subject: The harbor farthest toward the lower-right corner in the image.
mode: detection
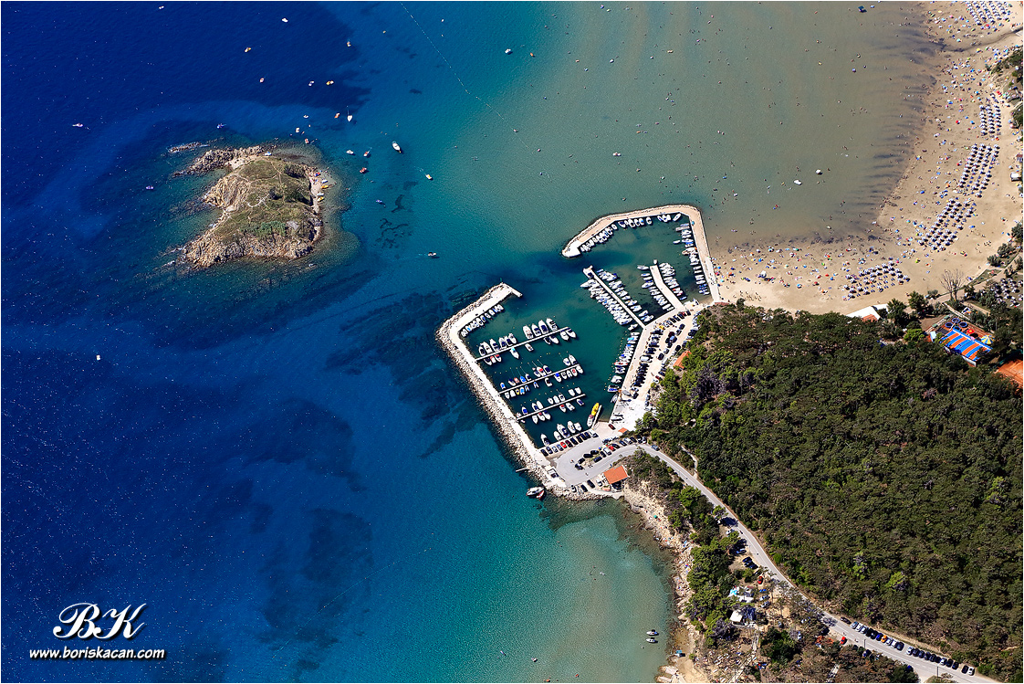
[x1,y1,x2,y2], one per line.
[535,303,713,498]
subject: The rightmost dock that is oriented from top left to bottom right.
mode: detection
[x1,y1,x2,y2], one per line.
[650,265,684,310]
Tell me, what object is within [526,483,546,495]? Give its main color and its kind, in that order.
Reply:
white boat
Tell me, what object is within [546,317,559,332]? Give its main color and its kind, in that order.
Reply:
white boat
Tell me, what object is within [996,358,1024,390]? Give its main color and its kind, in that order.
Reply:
orange tennis court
